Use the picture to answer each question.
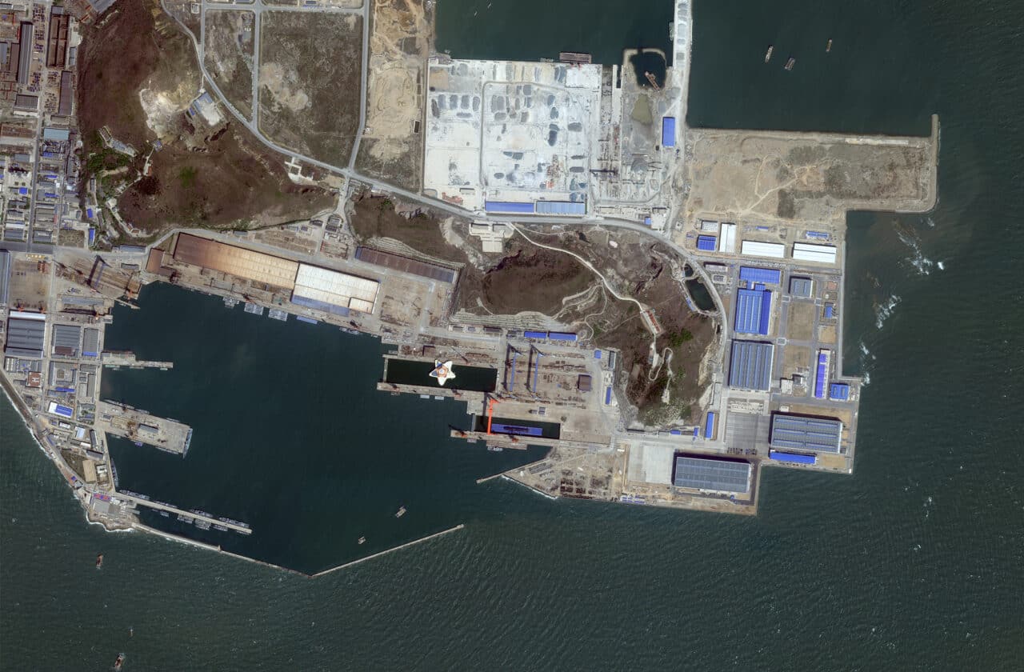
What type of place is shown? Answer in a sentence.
What you see here is a port.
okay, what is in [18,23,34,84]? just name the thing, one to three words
building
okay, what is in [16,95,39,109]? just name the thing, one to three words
building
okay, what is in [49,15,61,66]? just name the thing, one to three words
shed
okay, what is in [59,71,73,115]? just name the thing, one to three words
shed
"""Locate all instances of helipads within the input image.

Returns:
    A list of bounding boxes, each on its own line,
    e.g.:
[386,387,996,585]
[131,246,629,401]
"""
[27,372,42,387]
